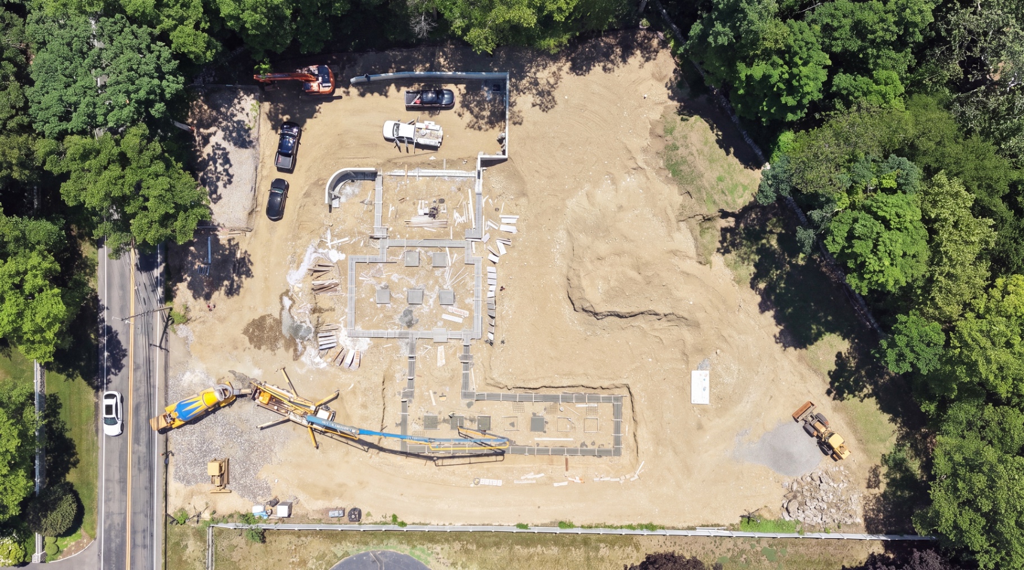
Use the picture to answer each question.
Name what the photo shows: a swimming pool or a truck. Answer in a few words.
truck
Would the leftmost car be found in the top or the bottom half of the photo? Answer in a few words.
bottom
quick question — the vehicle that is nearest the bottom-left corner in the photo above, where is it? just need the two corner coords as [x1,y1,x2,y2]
[101,391,125,436]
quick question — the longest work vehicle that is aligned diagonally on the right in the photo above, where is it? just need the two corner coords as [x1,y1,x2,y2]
[791,401,850,461]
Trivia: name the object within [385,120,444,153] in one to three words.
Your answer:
truck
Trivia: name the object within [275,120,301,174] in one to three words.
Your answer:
truck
